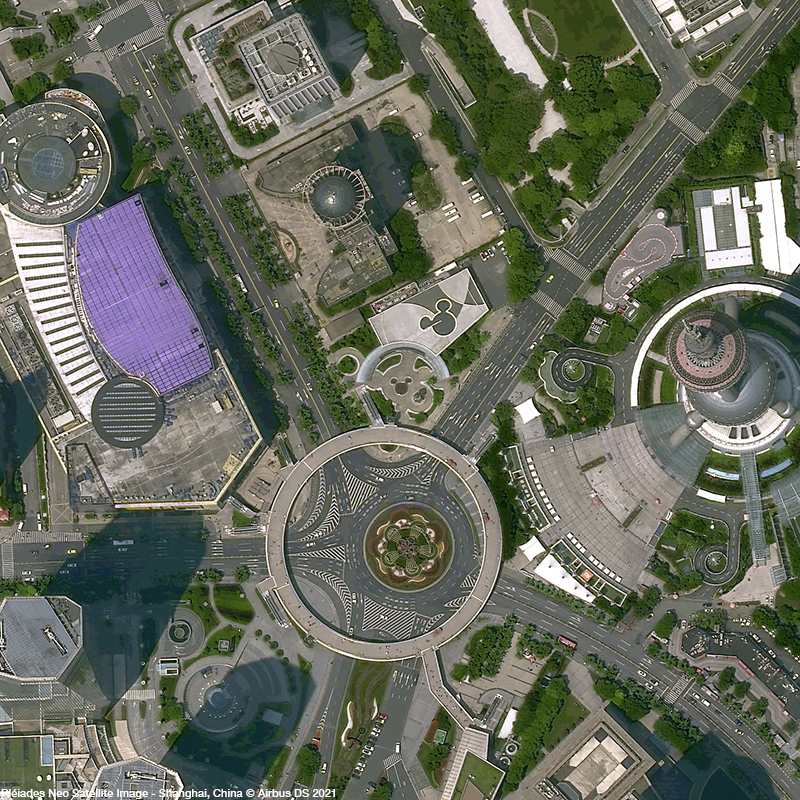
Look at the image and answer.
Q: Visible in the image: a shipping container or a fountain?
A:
fountain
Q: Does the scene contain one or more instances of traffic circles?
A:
Yes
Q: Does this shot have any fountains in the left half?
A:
Yes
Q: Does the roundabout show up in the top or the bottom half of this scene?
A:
bottom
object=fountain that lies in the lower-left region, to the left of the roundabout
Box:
[157,607,207,657]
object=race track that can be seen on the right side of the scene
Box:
[602,220,684,306]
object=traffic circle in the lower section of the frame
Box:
[284,444,484,644]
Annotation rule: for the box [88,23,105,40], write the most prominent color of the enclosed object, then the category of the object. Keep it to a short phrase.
white vehicle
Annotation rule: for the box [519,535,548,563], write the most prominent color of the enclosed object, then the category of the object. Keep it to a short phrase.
white tent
